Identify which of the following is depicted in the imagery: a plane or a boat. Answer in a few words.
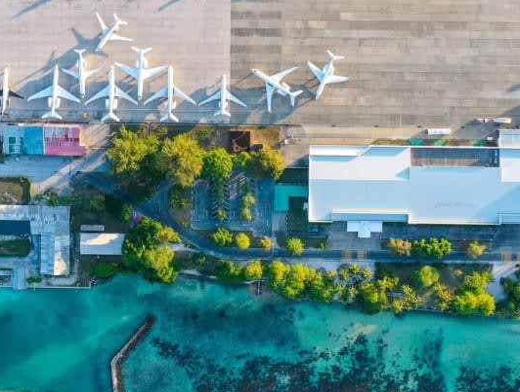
plane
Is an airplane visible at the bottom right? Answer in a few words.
No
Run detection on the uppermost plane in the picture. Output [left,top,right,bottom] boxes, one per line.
[96,13,132,49]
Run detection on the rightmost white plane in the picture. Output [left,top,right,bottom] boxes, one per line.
[307,55,351,98]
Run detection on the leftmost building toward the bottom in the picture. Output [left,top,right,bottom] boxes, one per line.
[0,203,70,275]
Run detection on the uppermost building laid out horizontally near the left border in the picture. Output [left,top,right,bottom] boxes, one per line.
[2,124,86,156]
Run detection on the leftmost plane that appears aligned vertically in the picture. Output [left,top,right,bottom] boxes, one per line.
[0,68,23,118]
